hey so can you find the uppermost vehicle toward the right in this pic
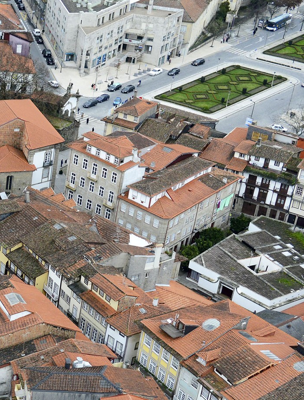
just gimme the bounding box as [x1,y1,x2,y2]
[266,12,294,32]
